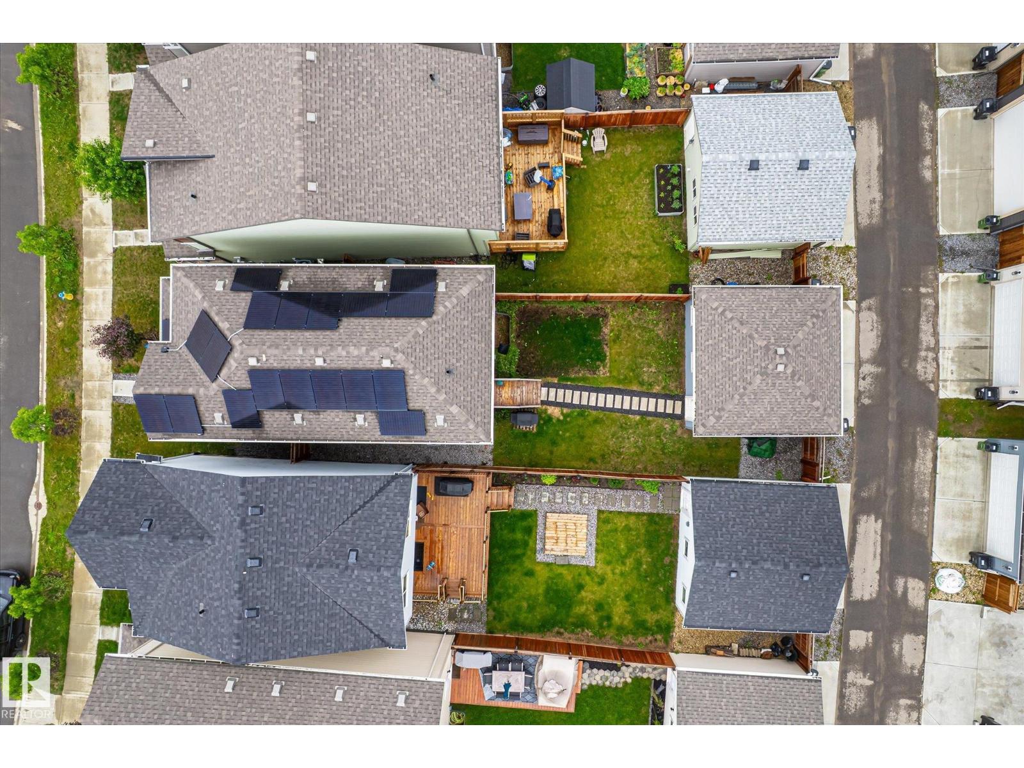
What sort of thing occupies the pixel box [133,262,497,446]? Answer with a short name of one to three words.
house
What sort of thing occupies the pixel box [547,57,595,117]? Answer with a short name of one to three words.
shed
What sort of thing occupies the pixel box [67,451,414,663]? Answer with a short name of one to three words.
house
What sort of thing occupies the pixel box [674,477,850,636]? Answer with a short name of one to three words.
building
